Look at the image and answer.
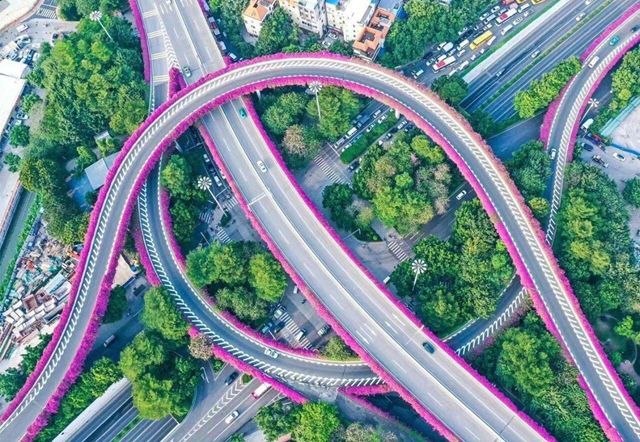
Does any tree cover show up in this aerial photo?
Yes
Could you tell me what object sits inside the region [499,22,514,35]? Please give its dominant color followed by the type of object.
white vehicle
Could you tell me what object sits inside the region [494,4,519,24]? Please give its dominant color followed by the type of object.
white bus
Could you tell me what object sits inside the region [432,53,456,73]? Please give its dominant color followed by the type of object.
white bus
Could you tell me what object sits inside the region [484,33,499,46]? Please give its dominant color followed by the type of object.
white vehicle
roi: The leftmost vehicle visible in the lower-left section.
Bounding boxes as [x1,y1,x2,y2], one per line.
[101,331,119,348]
